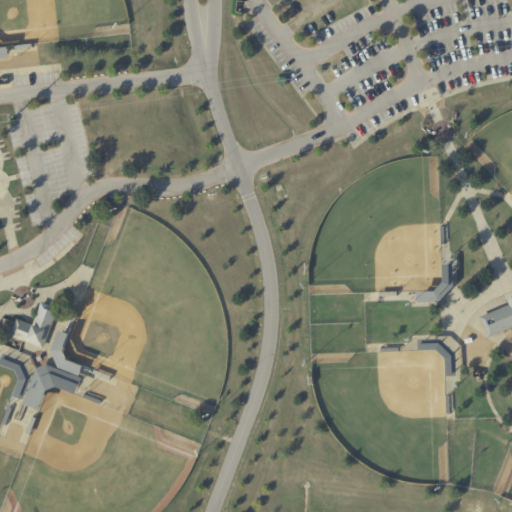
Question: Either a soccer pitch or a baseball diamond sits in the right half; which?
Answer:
baseball diamond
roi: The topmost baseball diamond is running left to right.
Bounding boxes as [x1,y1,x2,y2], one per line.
[0,0,130,46]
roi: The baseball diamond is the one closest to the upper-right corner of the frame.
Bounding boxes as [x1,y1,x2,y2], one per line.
[466,110,512,202]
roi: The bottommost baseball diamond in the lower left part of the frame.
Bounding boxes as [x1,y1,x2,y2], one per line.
[0,389,200,512]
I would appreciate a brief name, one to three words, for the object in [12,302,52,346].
building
